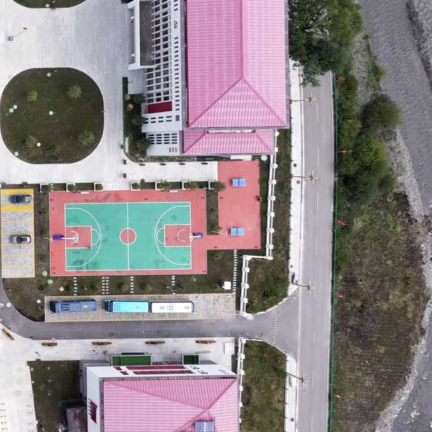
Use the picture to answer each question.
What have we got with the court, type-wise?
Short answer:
basketball court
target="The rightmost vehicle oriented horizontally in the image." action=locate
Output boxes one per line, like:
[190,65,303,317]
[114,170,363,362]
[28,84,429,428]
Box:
[152,302,200,317]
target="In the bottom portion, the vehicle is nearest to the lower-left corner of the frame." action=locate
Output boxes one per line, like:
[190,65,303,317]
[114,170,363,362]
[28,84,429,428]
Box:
[50,301,100,316]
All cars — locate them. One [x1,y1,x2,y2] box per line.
[11,195,33,204]
[11,235,32,245]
